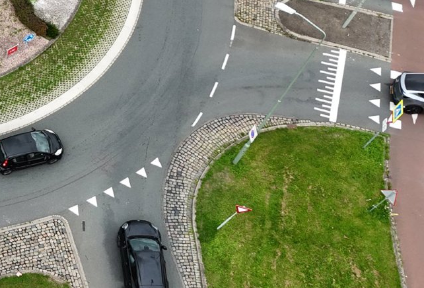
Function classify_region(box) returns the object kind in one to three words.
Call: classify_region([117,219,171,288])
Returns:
car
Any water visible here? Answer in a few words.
No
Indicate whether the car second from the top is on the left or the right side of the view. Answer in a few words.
left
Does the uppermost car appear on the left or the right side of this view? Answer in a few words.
right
